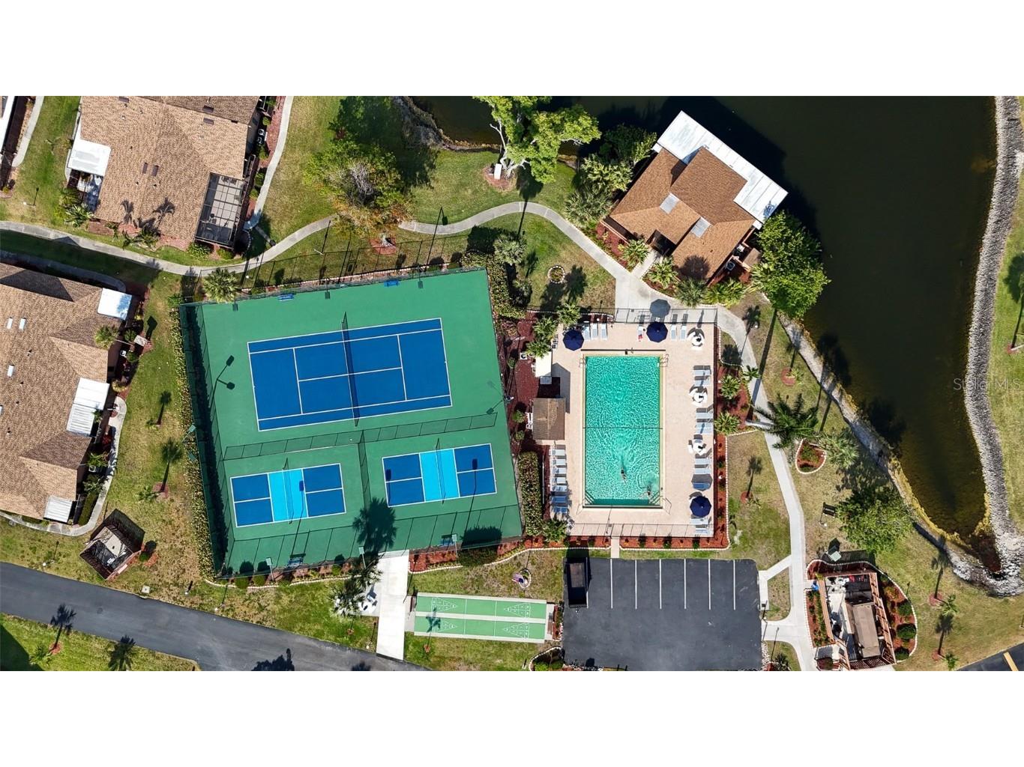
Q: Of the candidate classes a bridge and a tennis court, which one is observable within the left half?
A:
tennis court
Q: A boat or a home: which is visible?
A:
home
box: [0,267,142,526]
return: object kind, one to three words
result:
house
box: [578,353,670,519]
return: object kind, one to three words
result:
swimming pool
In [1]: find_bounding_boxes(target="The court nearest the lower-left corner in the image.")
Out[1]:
[213,444,370,574]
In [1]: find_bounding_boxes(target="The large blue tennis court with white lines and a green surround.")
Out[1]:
[184,271,512,462]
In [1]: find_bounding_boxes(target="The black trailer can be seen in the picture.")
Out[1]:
[566,564,589,619]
